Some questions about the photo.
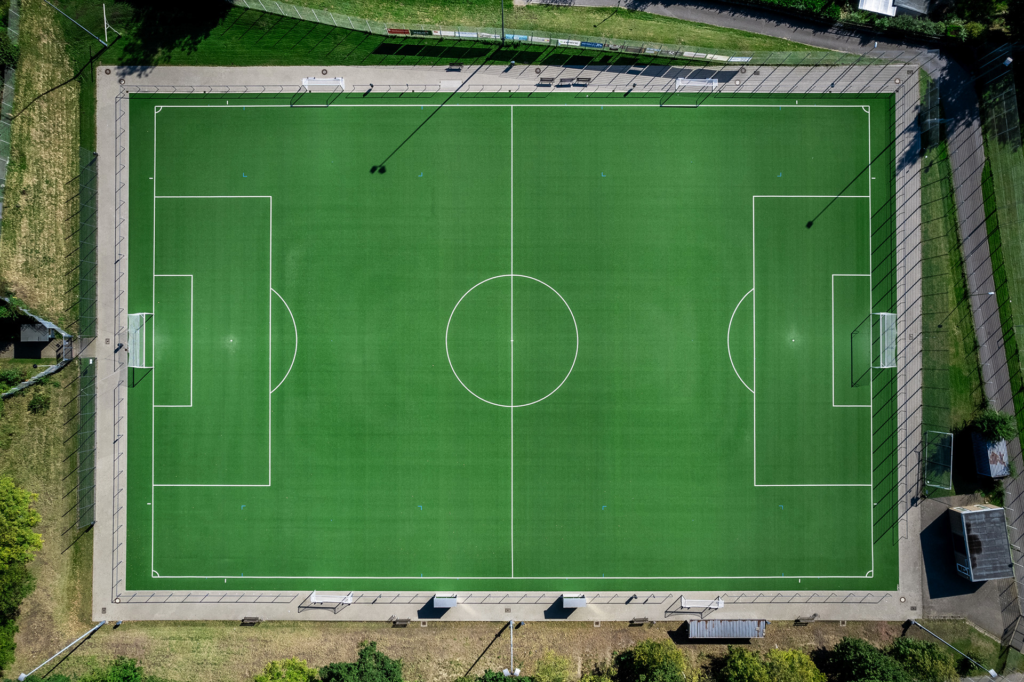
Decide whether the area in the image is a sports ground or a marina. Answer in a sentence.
What you see here is a sports ground.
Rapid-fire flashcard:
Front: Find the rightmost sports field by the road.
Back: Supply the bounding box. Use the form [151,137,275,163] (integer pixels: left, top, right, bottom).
[980,50,1024,378]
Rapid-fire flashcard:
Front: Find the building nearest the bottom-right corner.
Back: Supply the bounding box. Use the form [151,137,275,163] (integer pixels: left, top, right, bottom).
[948,505,1014,582]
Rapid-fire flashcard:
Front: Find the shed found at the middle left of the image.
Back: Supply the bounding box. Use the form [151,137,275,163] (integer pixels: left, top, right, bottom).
[21,324,59,342]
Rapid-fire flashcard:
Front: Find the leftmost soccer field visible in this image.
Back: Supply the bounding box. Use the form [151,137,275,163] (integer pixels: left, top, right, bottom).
[126,92,899,591]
